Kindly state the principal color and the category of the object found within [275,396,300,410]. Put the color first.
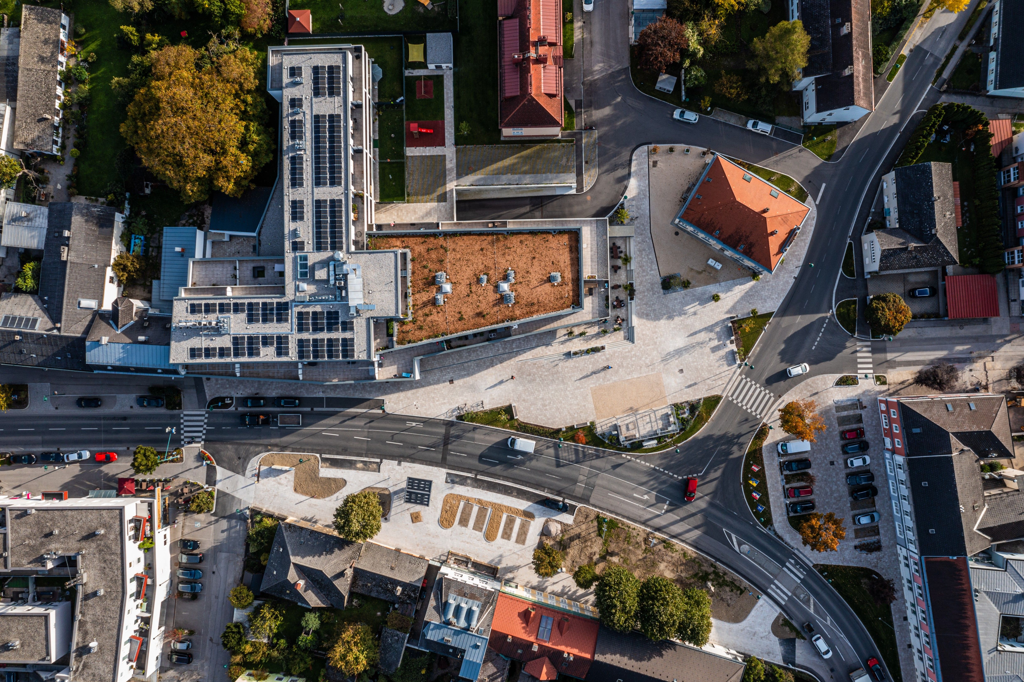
black car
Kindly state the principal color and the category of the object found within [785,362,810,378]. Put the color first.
white car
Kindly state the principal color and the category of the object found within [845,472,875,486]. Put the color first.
black car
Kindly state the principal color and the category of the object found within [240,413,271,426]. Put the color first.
black vehicle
